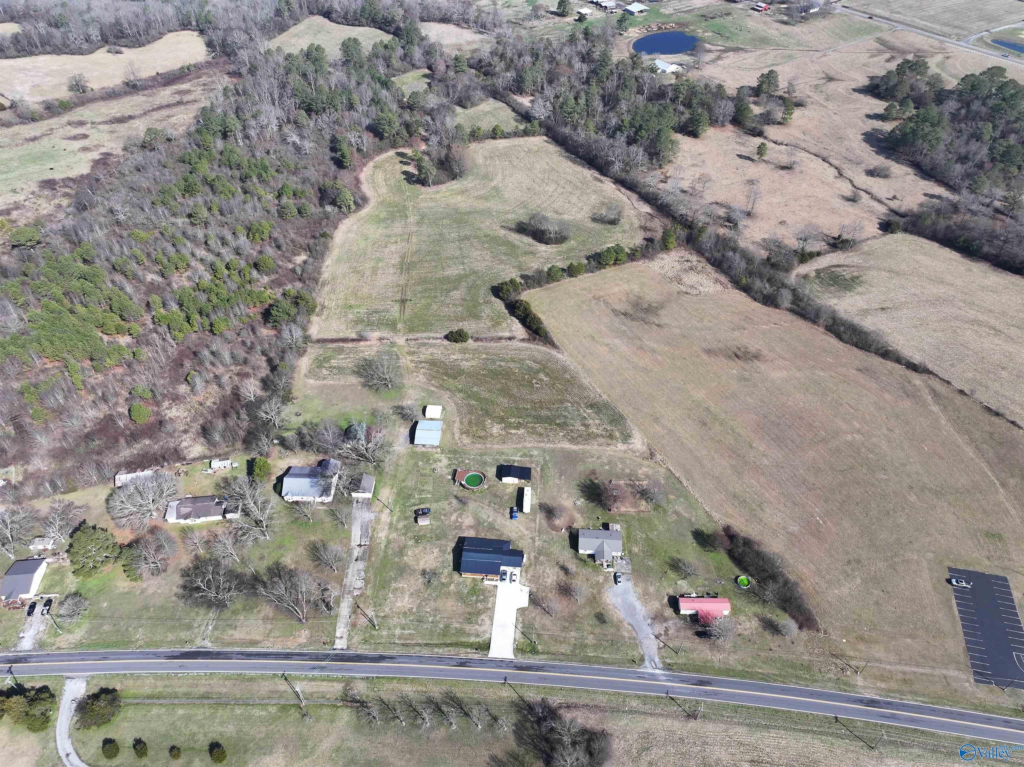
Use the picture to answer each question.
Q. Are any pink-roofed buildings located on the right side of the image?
Yes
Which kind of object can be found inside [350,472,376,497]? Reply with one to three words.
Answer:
building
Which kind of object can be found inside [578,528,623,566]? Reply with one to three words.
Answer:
house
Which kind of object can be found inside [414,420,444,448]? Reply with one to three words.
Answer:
barn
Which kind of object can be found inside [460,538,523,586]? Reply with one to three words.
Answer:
house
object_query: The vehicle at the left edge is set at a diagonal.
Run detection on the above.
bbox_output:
[37,598,55,615]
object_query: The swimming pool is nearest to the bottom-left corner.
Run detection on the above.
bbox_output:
[456,468,487,492]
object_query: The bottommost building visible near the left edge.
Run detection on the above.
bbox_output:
[0,558,53,610]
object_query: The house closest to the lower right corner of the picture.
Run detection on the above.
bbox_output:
[678,597,731,628]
